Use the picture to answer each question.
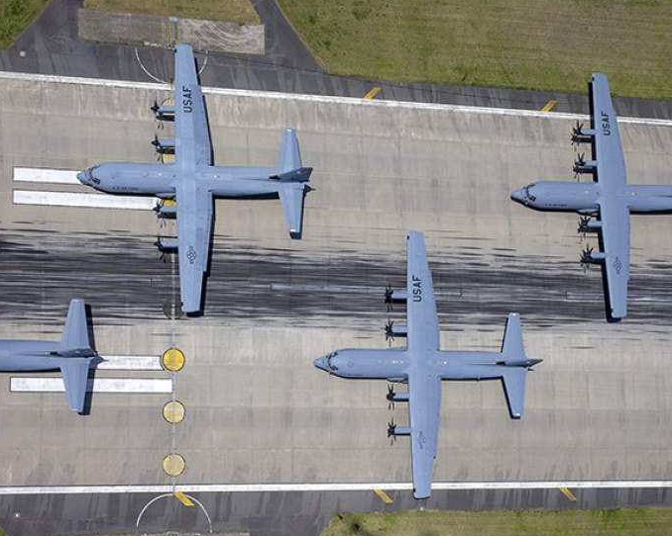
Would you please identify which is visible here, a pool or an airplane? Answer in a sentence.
Visible in the photo is an airplane.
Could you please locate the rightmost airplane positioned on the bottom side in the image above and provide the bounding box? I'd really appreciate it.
[311,231,542,498]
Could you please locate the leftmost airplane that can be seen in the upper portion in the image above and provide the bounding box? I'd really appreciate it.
[76,44,313,311]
